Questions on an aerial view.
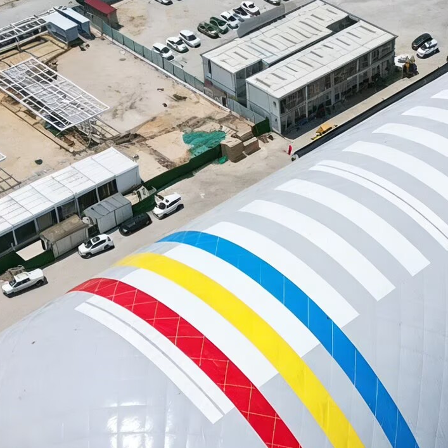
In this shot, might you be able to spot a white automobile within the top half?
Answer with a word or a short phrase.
Yes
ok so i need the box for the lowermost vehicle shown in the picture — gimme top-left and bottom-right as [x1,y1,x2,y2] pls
[2,266,45,296]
